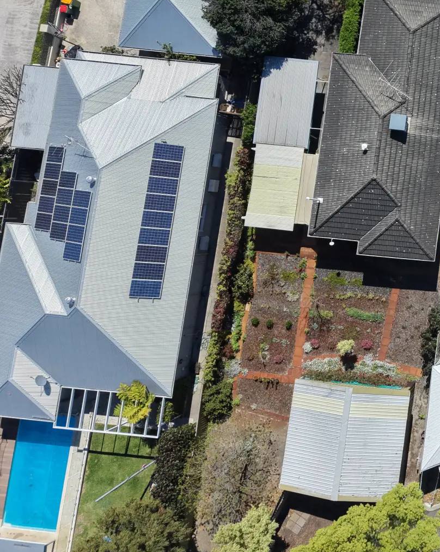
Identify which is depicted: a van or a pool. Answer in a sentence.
Of the two, only a pool appears.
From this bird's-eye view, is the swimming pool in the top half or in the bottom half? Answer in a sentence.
It is in the bottom half that the swimming pool appears.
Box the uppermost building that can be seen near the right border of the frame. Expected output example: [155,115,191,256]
[302,0,440,262]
